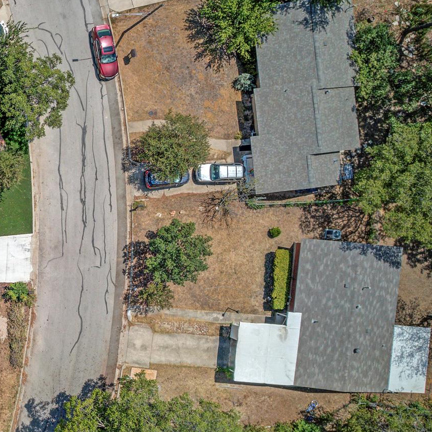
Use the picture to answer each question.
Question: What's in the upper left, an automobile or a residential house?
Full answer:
What appears in the upper left is an automobile.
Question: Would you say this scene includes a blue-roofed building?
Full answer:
No, this view has no blue-roofed building in it.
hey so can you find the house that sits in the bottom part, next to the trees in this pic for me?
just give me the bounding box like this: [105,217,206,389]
[222,238,431,393]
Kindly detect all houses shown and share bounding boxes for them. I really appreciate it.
[222,238,431,393]
[242,0,361,194]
